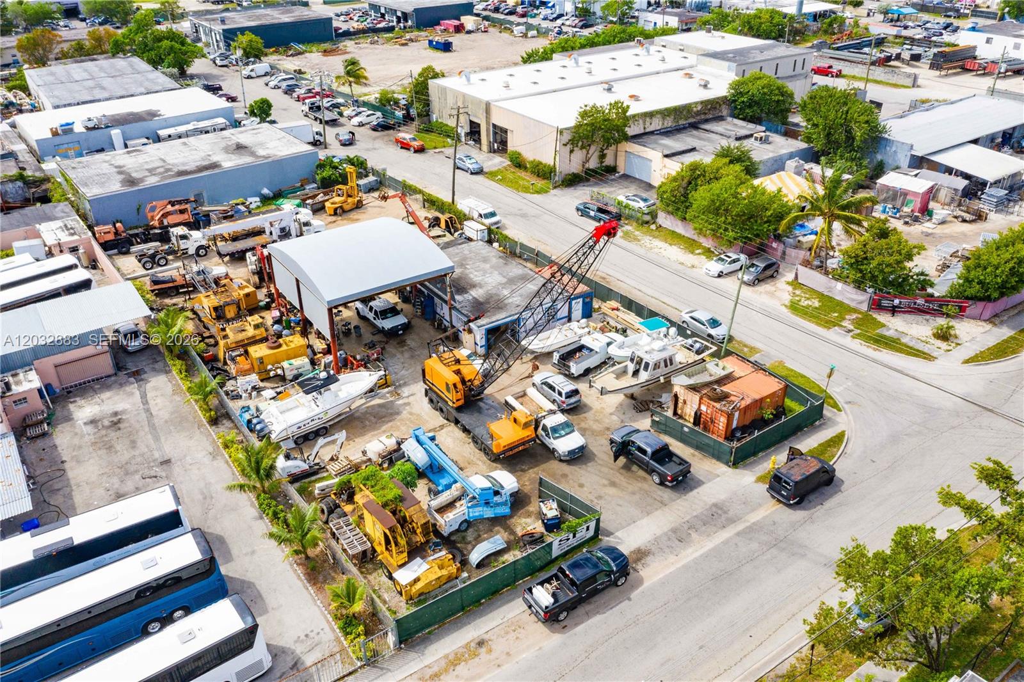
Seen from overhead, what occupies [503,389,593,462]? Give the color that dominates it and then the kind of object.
white truck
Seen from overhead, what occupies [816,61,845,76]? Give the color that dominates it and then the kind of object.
red vehicle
